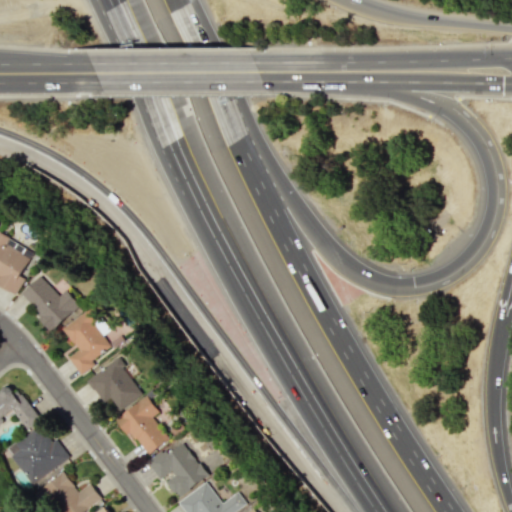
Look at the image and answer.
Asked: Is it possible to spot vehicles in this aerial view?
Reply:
Yes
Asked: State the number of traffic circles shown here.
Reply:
none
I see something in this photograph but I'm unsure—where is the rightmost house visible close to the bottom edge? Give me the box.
[180,482,248,512]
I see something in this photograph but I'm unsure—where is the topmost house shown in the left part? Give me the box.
[0,232,34,298]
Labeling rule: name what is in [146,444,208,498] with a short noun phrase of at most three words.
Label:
house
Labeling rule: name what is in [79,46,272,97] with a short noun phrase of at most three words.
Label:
overpass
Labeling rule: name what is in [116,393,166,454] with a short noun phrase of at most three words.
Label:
house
